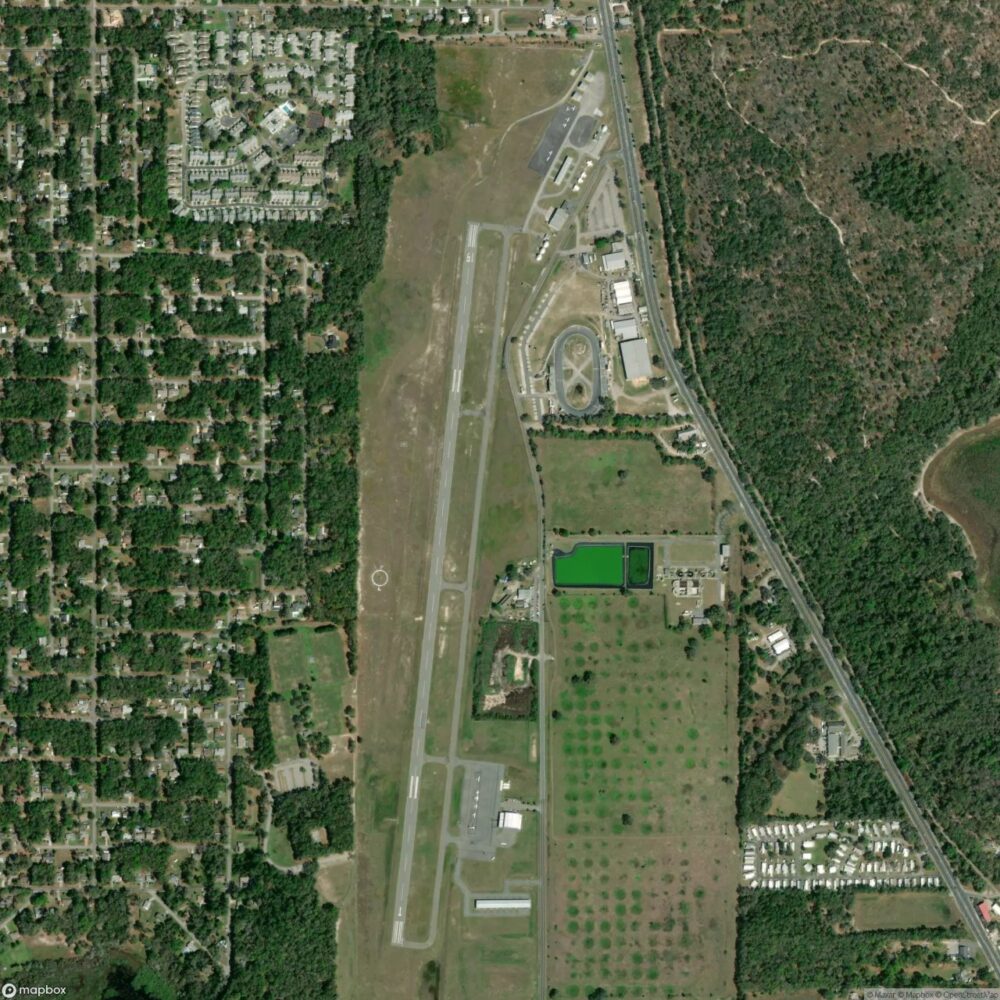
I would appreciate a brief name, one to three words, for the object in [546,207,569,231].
hangar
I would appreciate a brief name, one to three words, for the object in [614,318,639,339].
building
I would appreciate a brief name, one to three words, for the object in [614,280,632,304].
building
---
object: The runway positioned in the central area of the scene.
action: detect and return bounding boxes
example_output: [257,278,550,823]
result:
[392,223,479,945]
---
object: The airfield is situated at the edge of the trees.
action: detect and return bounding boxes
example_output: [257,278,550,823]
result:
[392,47,611,946]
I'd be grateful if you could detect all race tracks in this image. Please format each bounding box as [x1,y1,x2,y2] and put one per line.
[554,324,602,416]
